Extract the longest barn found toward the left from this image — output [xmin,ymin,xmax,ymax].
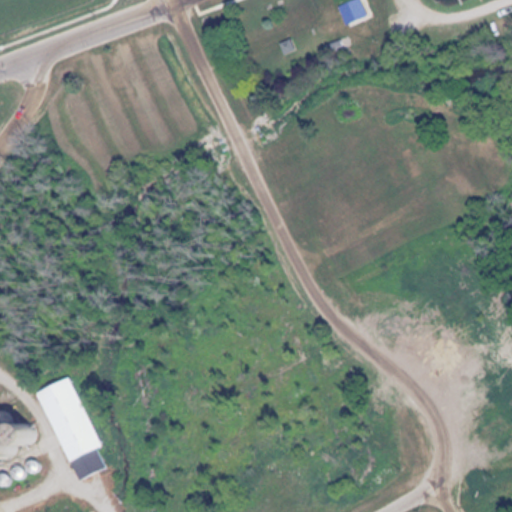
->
[36,377,109,478]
